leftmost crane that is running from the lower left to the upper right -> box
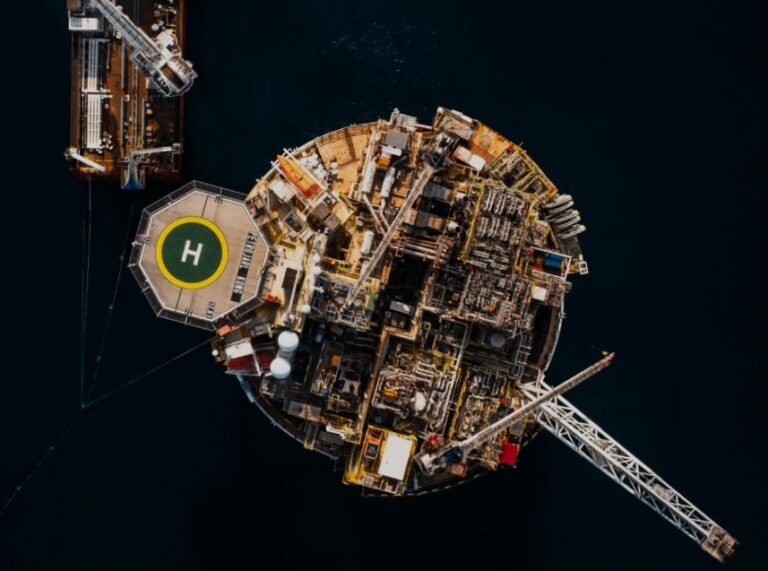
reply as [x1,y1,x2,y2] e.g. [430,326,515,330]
[341,127,460,310]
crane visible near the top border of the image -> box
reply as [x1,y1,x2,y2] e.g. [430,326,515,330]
[93,0,198,96]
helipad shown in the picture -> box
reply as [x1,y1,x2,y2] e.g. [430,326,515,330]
[129,179,268,332]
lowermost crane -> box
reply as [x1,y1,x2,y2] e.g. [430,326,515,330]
[410,349,620,476]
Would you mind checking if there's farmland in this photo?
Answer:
No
